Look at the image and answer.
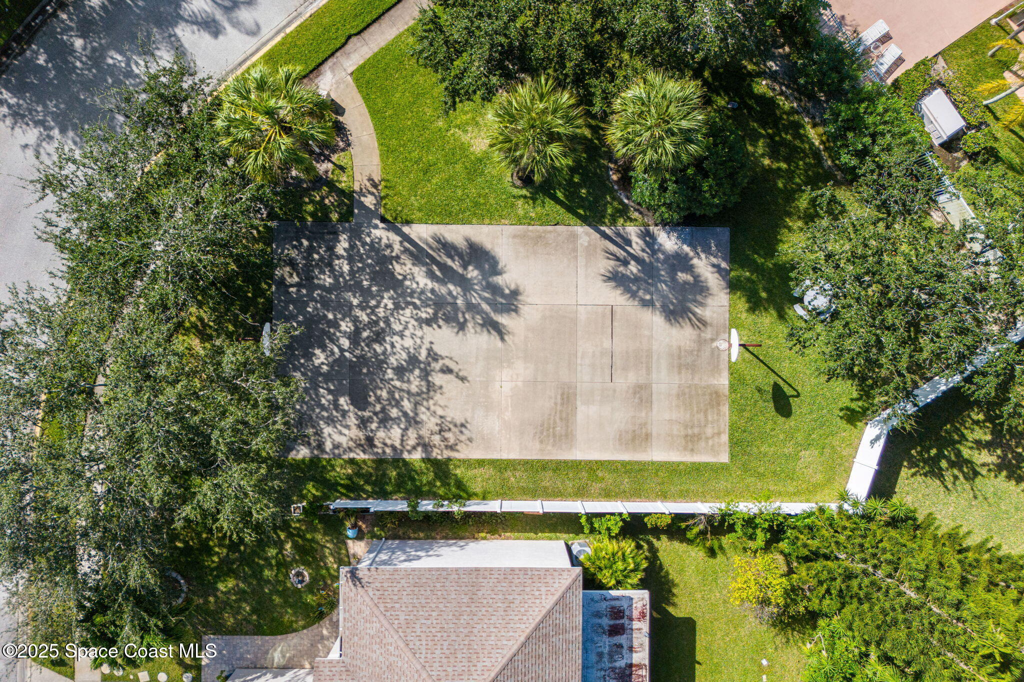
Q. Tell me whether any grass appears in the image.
Yes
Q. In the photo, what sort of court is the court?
basketball court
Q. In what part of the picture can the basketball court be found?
center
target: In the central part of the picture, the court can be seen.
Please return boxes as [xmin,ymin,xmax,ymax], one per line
[272,222,729,462]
